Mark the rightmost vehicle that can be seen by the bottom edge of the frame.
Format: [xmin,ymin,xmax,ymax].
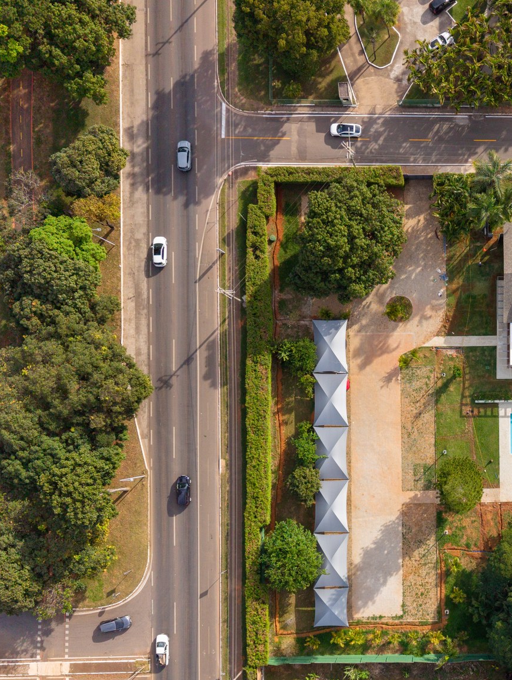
[154,635,169,666]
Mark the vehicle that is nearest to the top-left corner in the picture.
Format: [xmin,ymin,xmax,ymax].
[177,142,192,171]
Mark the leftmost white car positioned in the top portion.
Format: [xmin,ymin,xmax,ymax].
[153,239,168,265]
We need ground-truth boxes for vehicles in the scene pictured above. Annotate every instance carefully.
[175,475,192,503]
[153,239,168,265]
[98,615,130,634]
[428,0,456,14]
[425,31,453,54]
[332,122,361,137]
[177,142,192,171]
[154,635,169,666]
